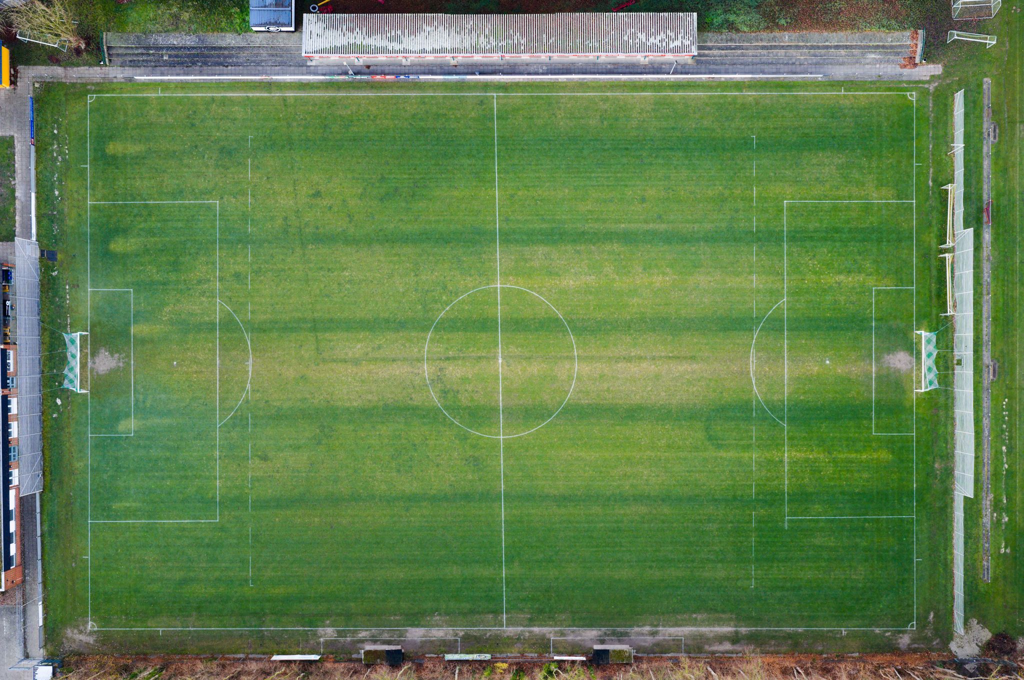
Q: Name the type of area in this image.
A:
sports ground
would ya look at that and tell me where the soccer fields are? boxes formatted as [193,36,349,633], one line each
[81,87,921,654]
